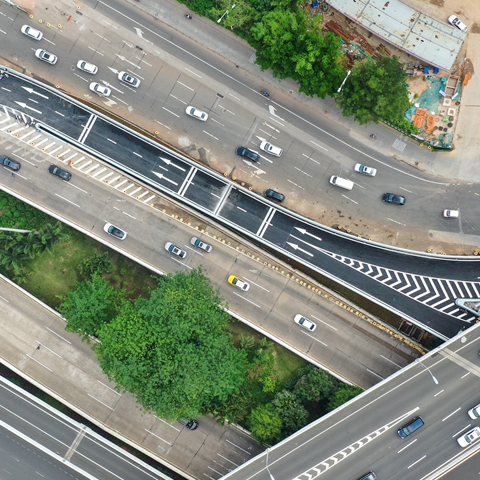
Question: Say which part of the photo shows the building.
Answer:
top right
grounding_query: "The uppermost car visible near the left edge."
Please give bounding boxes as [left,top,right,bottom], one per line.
[22,24,44,42]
